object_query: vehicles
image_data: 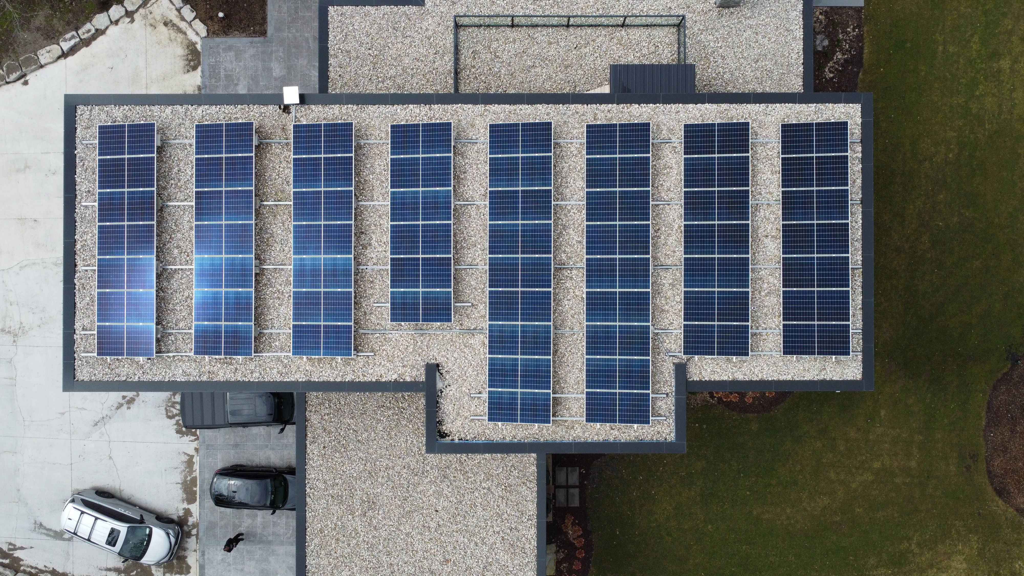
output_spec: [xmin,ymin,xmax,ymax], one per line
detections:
[60,488,184,567]
[209,463,296,520]
[178,392,296,435]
